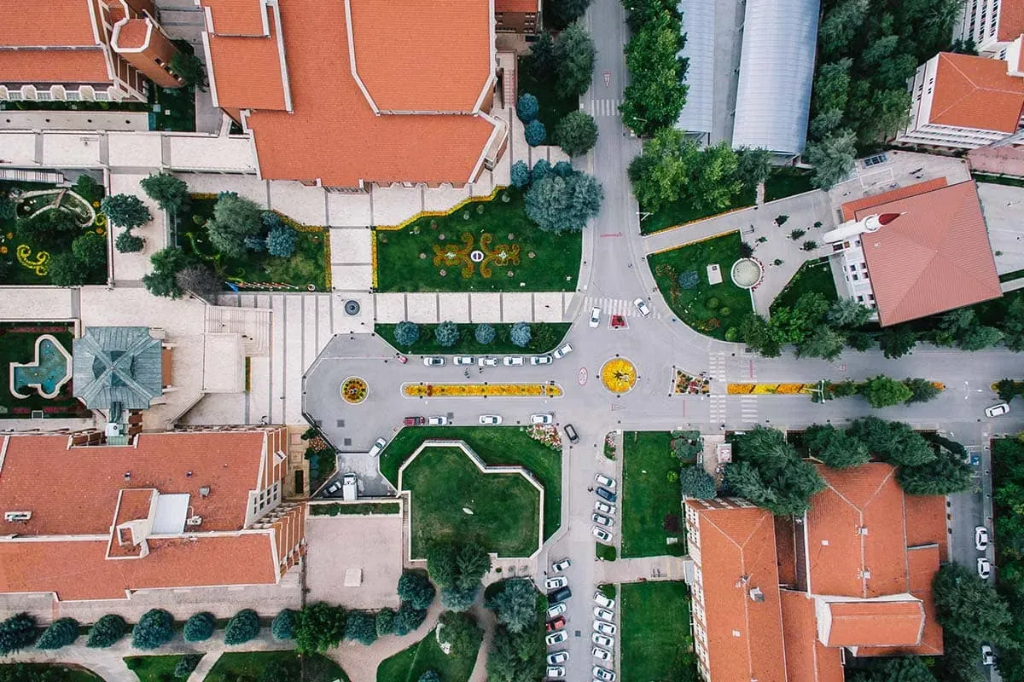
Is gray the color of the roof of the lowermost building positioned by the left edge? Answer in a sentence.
No, the roof of the lowermost building positioned by the left edge is actually red.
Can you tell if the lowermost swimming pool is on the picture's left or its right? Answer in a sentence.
The lowermost swimming pool is on the left side of the image.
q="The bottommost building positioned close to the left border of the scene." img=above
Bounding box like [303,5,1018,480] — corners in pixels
[0,412,303,602]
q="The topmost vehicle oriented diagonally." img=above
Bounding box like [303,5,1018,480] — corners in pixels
[633,297,650,318]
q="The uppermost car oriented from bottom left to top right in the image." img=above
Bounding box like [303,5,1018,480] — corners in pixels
[553,343,573,359]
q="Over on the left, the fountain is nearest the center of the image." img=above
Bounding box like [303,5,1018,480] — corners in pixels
[343,299,360,316]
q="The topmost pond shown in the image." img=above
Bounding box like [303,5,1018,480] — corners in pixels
[8,186,94,227]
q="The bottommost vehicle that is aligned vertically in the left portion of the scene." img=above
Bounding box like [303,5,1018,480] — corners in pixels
[343,471,356,501]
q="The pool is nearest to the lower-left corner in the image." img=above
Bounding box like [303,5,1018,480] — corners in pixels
[7,331,73,400]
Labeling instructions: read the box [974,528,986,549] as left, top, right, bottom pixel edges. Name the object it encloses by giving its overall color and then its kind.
white vehicle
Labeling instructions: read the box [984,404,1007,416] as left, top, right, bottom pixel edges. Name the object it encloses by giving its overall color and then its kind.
white vehicle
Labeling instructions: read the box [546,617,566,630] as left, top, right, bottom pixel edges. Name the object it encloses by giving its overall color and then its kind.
red vehicle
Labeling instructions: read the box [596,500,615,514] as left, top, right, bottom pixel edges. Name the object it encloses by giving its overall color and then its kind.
white car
